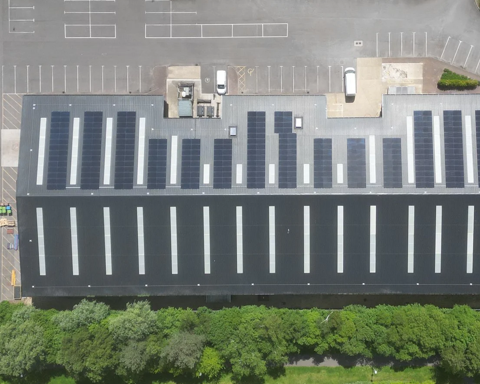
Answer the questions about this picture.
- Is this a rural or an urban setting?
urban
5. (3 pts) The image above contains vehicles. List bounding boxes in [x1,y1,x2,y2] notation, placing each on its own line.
[344,68,356,97]
[215,70,227,94]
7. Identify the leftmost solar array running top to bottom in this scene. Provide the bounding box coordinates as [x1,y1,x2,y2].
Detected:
[47,111,69,190]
